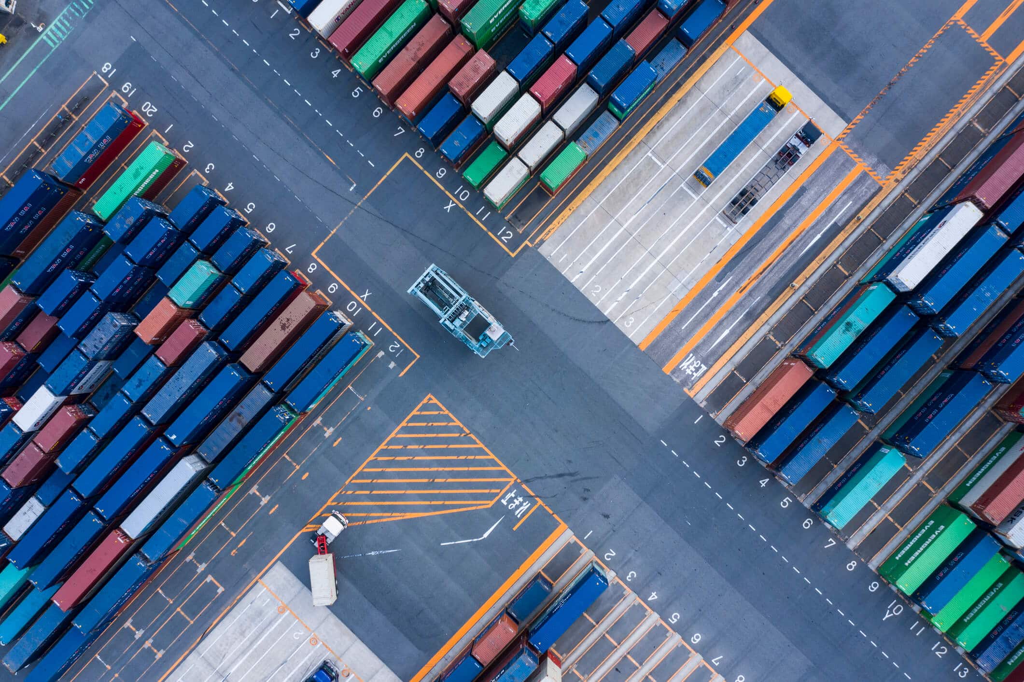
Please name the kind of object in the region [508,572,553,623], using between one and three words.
shipping container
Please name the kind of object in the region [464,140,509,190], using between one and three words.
shipping container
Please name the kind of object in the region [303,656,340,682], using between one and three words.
truck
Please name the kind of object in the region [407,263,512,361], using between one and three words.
work vehicle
